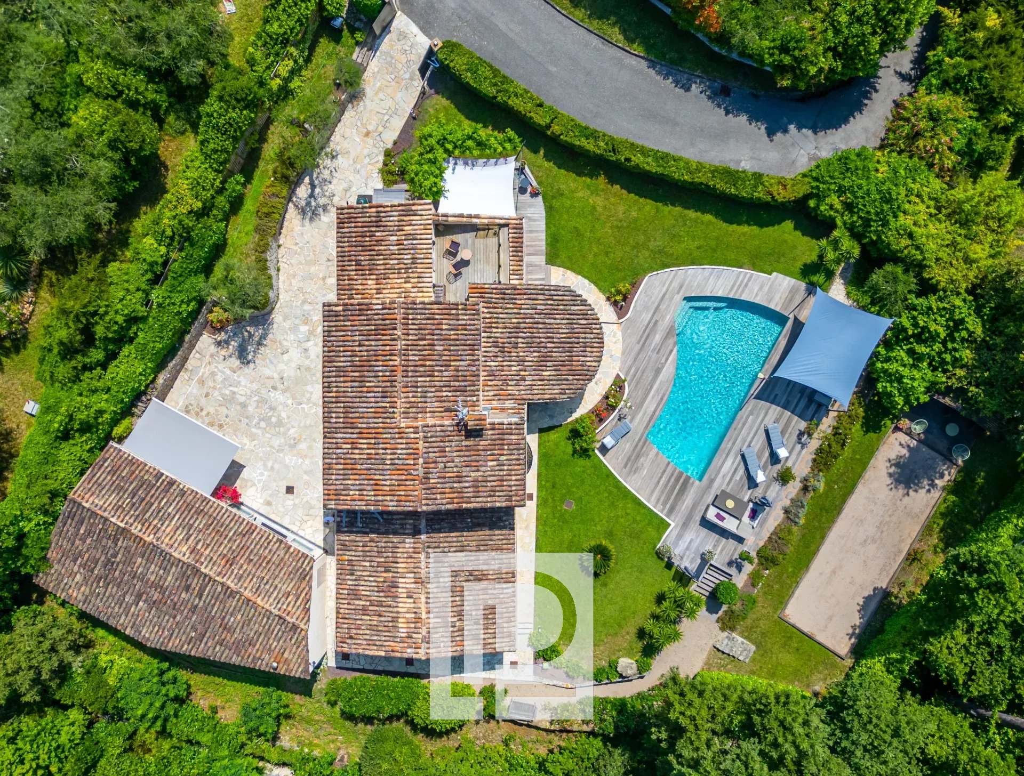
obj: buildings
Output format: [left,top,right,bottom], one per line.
[321,200,605,662]
[35,442,334,680]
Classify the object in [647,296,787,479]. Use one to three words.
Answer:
swimming pool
